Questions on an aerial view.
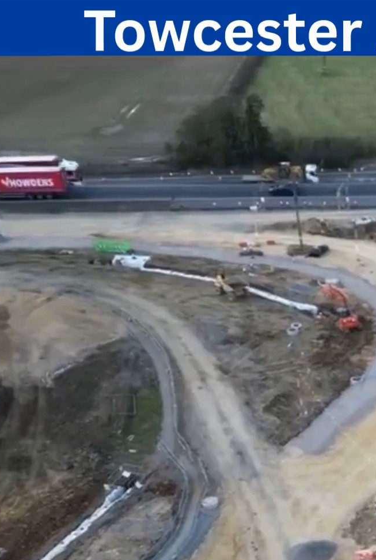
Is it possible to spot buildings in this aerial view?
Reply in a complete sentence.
No, there is no building in the image.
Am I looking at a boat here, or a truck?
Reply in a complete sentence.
The image shows a truck.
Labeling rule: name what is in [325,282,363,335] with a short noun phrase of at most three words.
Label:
work vehicle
